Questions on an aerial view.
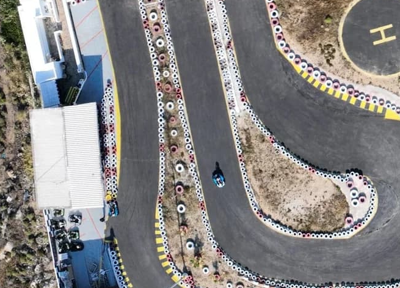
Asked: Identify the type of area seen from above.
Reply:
sports ground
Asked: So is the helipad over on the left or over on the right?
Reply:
right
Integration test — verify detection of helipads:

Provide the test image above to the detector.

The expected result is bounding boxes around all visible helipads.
[343,0,400,72]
